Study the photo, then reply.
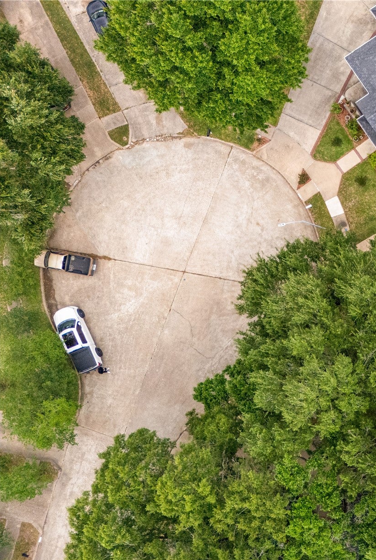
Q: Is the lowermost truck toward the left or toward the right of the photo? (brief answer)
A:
left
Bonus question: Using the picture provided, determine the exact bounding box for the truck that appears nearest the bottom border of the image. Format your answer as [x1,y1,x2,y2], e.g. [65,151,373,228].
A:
[53,305,101,373]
